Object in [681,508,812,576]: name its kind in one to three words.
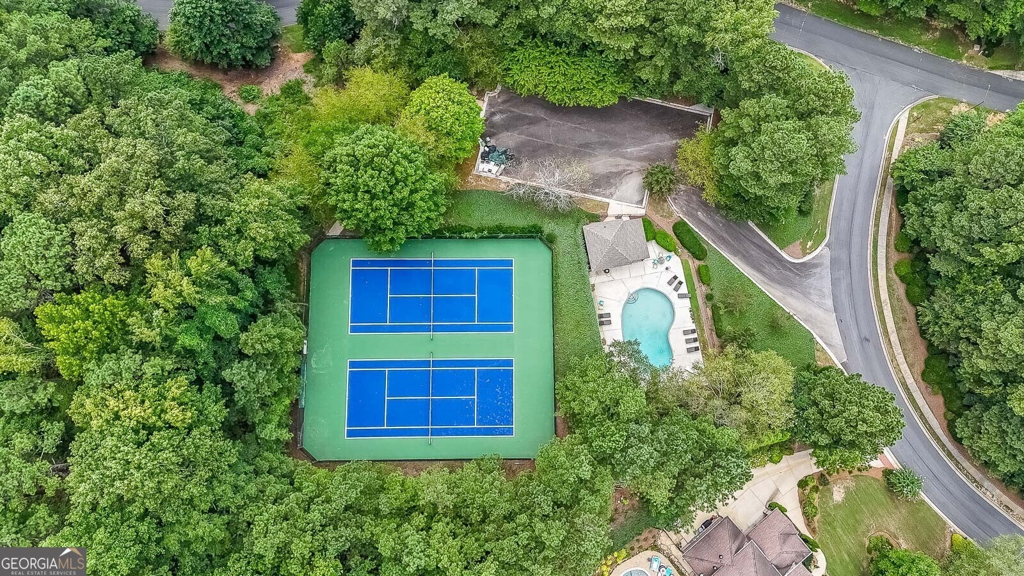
house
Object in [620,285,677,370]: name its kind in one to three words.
swimming pool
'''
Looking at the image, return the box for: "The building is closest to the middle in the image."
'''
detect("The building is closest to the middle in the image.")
[583,218,649,271]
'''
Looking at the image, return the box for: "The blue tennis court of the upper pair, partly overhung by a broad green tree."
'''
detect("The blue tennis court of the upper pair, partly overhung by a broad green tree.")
[348,258,515,334]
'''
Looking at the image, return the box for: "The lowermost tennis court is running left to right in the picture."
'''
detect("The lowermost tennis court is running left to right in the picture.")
[345,358,515,439]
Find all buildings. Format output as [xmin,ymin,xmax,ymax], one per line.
[681,508,812,576]
[583,218,649,271]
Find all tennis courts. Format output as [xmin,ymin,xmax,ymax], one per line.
[348,258,515,334]
[345,358,515,439]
